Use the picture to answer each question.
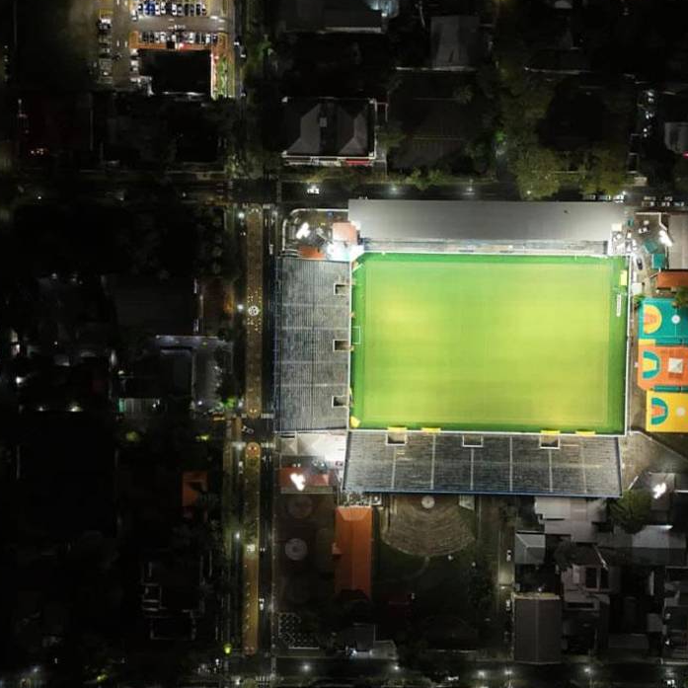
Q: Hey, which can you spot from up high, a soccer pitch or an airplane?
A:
soccer pitch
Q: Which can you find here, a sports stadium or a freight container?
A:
sports stadium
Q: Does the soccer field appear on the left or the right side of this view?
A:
right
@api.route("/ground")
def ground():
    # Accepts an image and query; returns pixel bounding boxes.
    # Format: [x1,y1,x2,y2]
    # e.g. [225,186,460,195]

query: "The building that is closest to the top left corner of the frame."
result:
[19,94,94,157]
